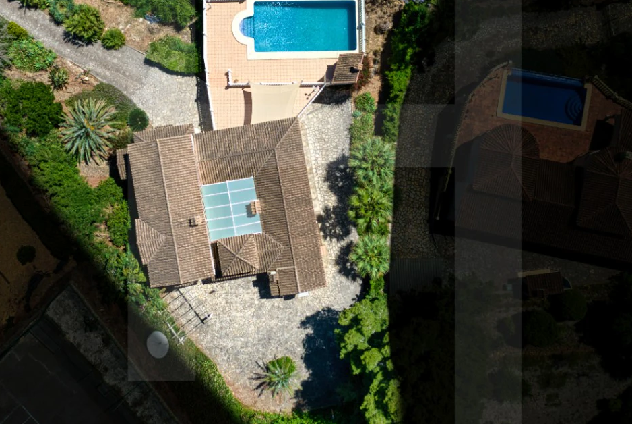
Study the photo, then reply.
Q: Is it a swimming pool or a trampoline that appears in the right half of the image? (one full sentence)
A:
What appears in the right half of the image is a swimming pool.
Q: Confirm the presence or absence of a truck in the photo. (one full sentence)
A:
No, no truck is visible in the view.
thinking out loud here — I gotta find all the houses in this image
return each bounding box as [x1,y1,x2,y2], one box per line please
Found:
[115,117,327,298]
[453,109,632,271]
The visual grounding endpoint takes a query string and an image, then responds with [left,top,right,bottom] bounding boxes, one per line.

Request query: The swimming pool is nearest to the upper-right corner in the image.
[498,69,594,131]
